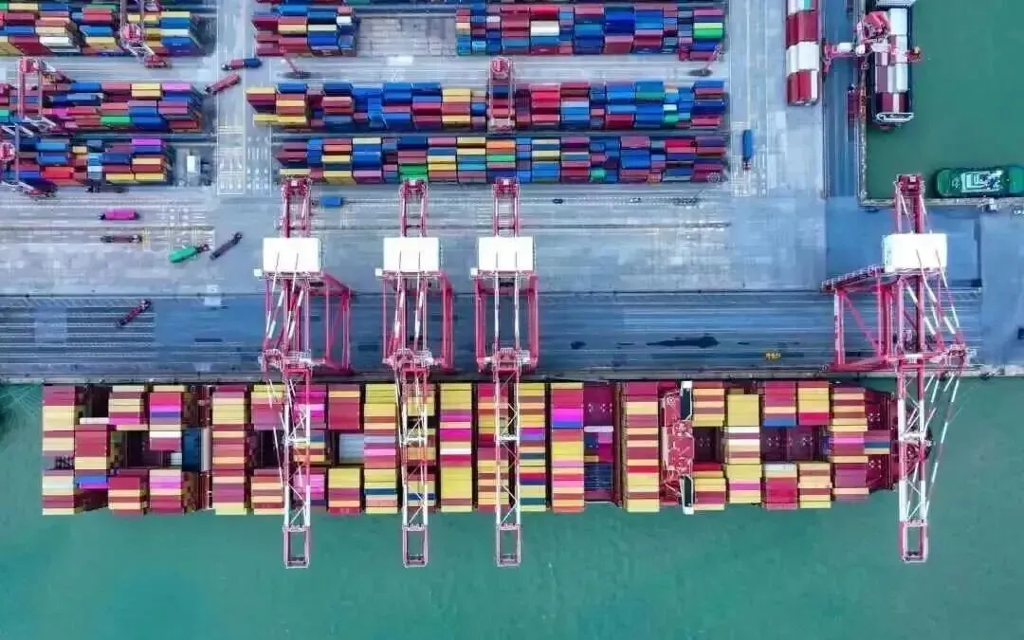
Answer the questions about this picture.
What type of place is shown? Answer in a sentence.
The picture captures a port.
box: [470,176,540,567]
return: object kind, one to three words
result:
container crane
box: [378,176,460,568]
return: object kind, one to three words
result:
container crane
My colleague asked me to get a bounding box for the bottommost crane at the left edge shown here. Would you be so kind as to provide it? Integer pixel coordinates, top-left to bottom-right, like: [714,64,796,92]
[0,118,56,210]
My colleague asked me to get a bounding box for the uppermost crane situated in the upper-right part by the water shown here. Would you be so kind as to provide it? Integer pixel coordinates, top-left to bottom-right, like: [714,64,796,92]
[818,15,928,79]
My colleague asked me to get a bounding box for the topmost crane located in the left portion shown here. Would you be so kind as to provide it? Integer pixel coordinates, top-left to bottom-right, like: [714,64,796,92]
[119,0,173,75]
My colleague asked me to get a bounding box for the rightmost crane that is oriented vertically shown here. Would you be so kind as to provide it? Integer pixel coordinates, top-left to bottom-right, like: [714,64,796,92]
[822,174,972,565]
